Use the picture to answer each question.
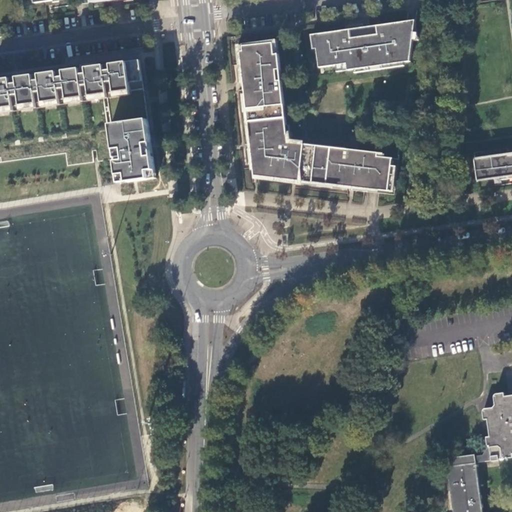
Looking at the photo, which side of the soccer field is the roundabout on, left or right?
to the right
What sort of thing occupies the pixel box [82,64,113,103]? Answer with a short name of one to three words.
house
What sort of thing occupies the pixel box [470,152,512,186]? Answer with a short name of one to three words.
building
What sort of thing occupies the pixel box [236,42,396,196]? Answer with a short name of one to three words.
building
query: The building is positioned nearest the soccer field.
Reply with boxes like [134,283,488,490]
[106,118,157,188]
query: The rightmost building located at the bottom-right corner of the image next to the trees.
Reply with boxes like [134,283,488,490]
[475,392,512,463]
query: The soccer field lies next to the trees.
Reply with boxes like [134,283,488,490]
[0,194,150,512]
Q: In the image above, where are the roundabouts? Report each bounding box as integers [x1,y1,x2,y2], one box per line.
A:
[176,229,252,304]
